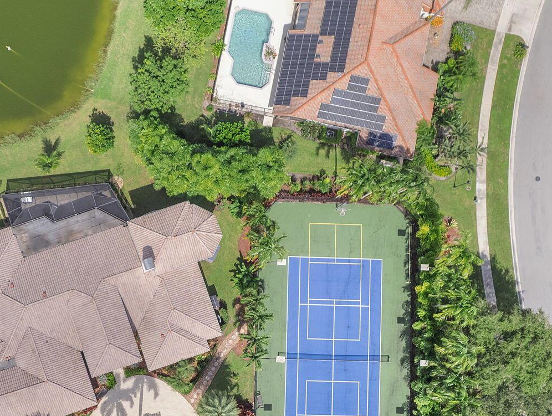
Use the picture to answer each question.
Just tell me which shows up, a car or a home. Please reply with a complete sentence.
The one in the frame is a home.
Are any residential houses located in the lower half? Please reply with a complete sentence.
Yes, a residential house is visible in the lower half.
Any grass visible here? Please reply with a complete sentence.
Yes, the picture does contain grass.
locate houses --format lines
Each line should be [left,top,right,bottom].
[273,0,444,160]
[0,200,223,416]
